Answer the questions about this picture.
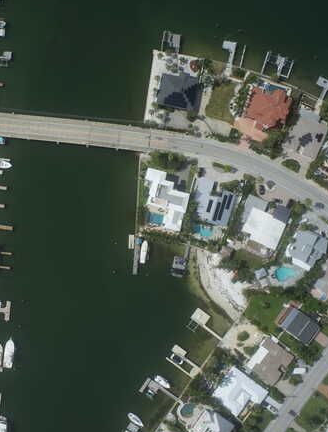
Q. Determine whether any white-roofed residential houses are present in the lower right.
Yes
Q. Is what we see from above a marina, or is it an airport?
marina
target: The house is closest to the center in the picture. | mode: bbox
[144,168,190,231]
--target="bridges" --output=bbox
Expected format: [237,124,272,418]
[0,111,153,152]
